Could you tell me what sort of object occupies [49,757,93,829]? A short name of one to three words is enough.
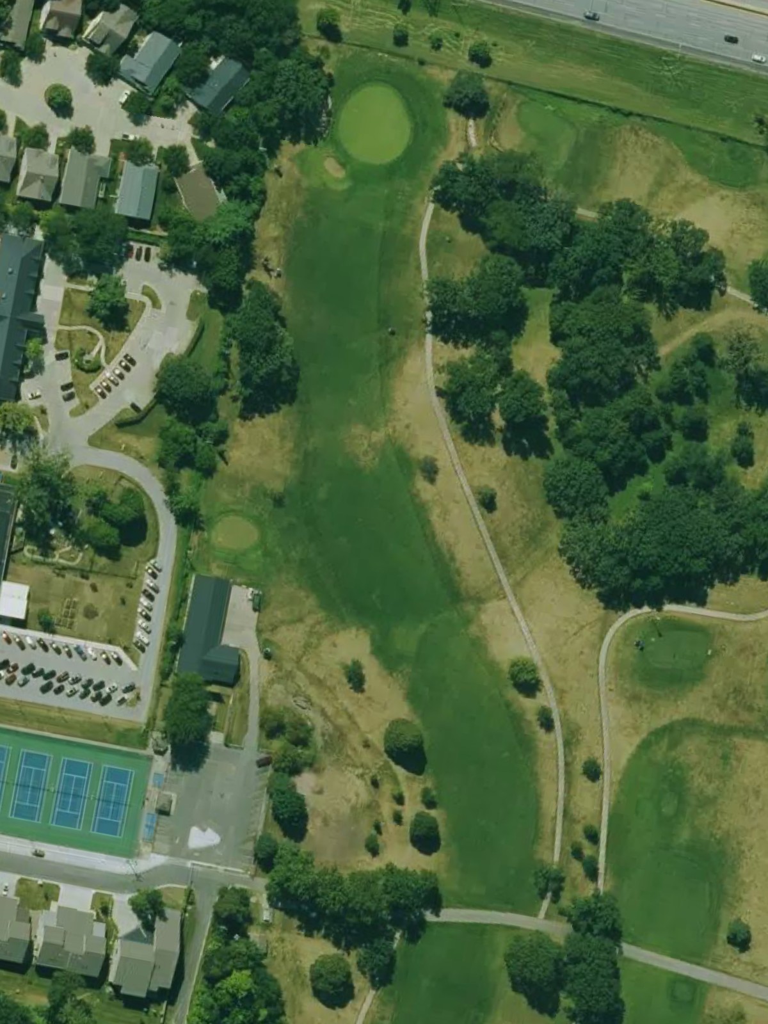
tennis court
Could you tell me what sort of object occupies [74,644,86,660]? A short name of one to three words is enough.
vehicle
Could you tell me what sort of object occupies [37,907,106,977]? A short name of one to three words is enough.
house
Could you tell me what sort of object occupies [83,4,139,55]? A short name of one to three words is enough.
house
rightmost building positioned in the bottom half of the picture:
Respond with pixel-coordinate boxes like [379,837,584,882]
[176,574,239,687]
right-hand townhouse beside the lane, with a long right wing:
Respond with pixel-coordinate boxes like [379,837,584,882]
[113,910,181,997]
